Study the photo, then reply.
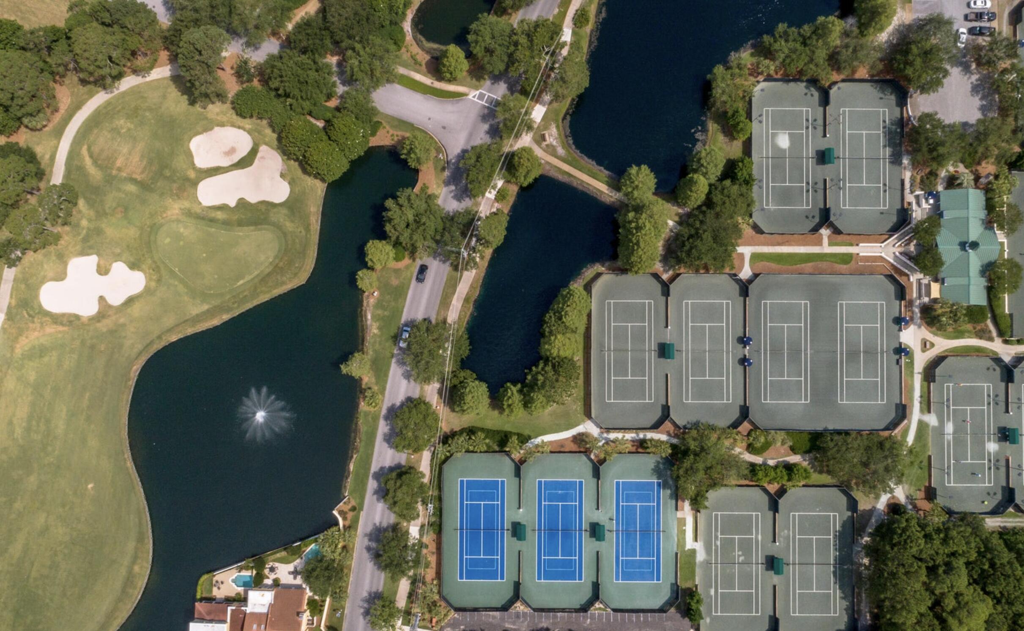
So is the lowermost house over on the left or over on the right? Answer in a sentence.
You can find the lowermost house on the left side of the picture.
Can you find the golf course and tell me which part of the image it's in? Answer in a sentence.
The golf course is in the left part of the image.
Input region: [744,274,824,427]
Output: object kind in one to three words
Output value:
tennis court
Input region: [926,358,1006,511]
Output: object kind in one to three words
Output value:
tennis court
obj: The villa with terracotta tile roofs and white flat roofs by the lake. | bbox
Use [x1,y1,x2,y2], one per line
[189,581,312,631]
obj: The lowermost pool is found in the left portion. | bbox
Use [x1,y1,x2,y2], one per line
[229,573,250,589]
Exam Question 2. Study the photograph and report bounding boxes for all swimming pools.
[301,542,324,564]
[229,573,250,589]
